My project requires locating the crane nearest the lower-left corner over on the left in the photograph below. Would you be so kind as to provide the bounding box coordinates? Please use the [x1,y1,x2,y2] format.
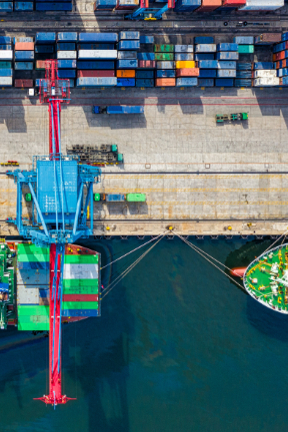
[5,58,109,411]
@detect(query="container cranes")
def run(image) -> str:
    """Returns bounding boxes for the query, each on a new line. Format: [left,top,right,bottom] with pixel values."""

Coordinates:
[119,0,173,20]
[5,58,109,411]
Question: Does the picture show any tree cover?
No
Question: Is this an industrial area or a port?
port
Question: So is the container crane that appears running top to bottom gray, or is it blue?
blue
